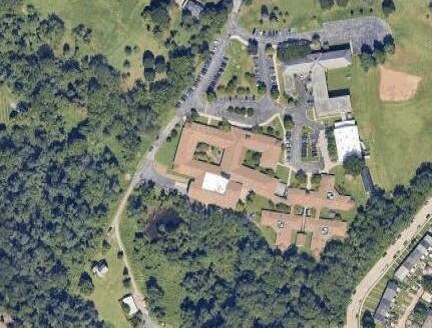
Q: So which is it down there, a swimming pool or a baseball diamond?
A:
baseball diamond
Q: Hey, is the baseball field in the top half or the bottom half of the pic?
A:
top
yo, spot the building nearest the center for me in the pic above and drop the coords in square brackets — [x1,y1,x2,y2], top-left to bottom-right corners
[173,122,291,209]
